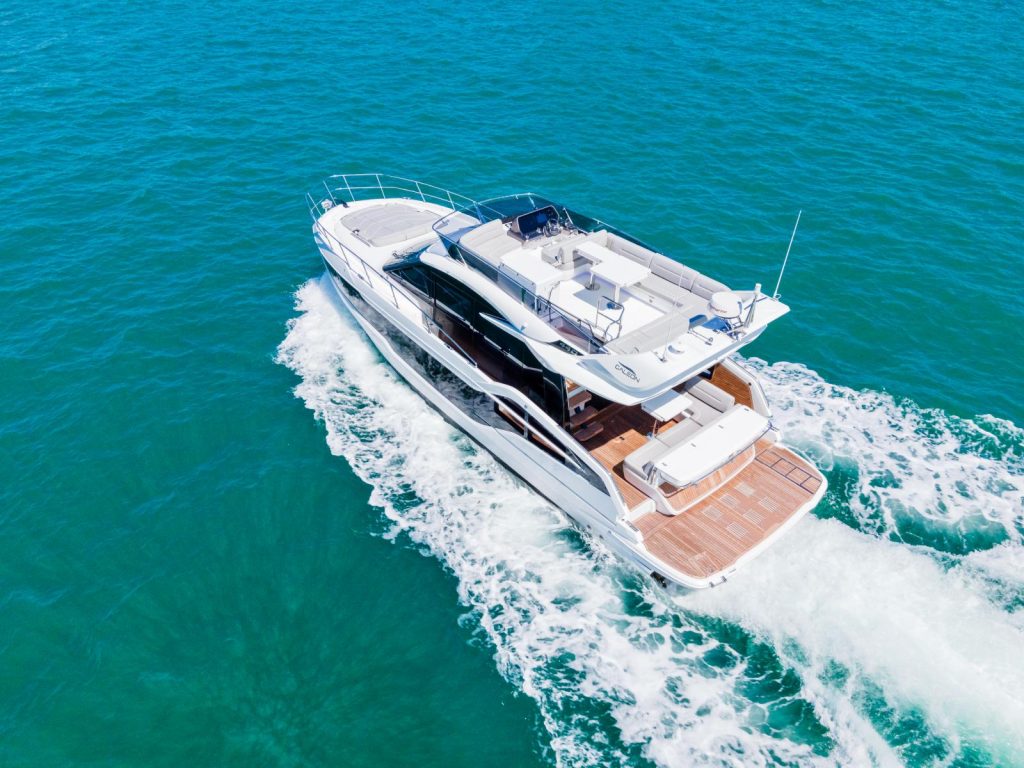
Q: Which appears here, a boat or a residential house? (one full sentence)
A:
It is a boat that can be seen here.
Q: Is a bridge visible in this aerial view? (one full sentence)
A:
No, there isn't any bridge down there.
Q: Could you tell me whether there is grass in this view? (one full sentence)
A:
No, the scene doesn't show any grass.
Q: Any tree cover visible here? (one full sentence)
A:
No, the picture contains no tree cover.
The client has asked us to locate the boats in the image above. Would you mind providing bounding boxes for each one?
[304,173,833,593]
